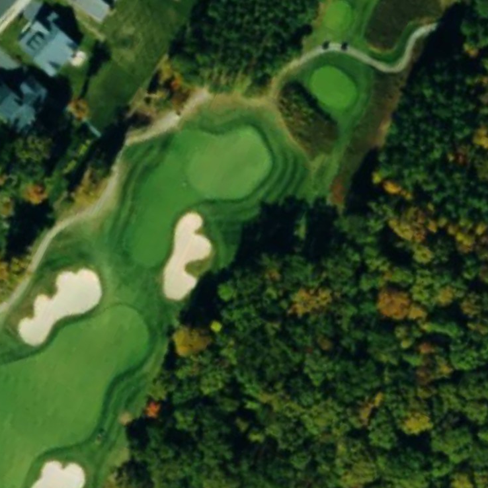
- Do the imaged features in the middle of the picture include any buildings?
No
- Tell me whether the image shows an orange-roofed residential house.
No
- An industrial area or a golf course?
golf course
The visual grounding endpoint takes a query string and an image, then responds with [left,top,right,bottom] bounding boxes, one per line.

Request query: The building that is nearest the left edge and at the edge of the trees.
[0,70,48,130]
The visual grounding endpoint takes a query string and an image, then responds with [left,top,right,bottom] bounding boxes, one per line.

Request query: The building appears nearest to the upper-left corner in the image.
[18,6,85,74]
